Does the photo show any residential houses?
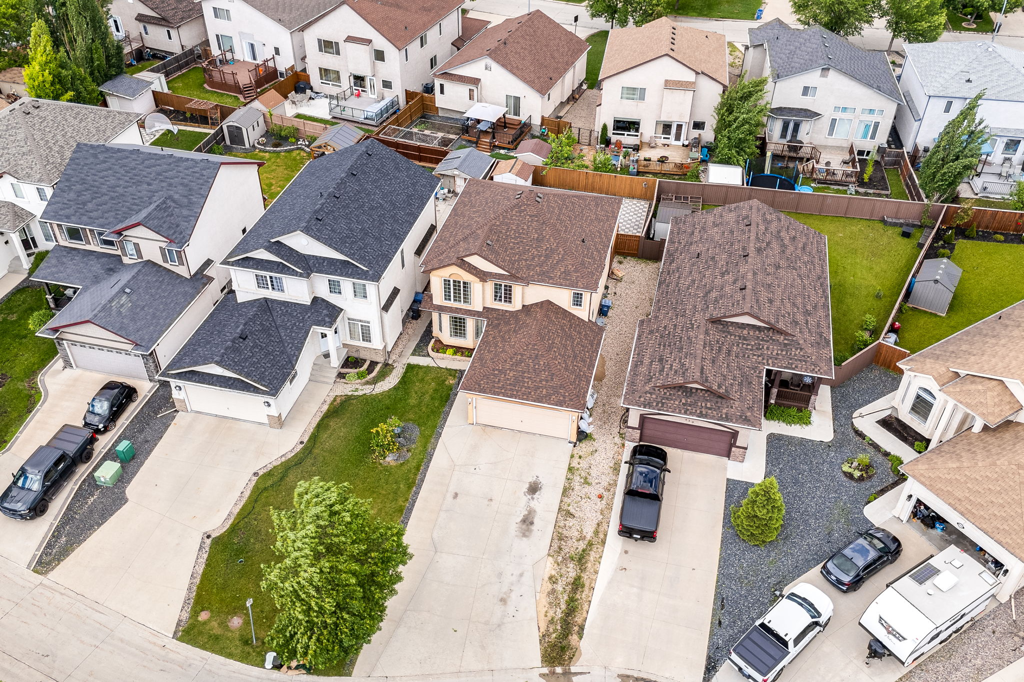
Yes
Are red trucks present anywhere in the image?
No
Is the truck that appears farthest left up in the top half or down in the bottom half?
bottom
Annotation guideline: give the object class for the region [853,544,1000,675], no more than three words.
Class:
trailer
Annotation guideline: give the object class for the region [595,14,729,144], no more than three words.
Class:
house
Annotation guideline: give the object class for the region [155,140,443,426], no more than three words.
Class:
house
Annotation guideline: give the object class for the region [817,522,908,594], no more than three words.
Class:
car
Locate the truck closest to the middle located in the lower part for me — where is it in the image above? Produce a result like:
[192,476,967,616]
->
[616,441,673,543]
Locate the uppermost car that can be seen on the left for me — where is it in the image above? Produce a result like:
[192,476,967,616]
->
[76,375,139,433]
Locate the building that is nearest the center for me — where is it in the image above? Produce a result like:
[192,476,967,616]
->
[416,177,625,445]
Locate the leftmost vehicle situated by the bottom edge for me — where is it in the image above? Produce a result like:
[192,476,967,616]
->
[723,577,841,682]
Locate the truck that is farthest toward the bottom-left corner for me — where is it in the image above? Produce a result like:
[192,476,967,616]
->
[0,425,94,528]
